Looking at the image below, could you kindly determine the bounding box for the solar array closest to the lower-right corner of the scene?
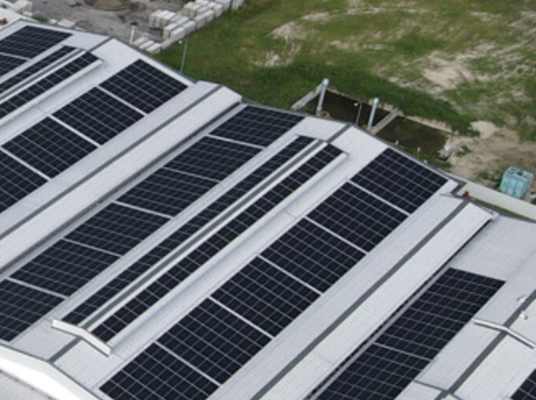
[513,370,536,400]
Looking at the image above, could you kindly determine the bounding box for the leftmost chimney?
[316,77,329,113]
